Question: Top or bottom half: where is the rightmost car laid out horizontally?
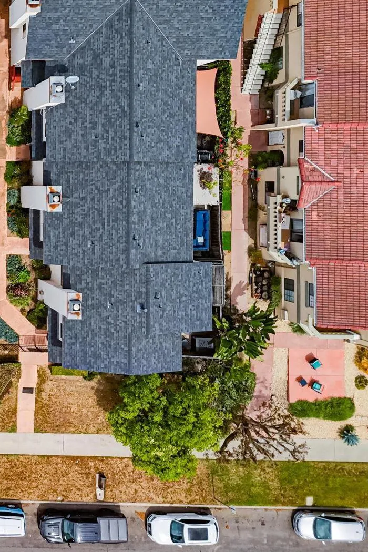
bottom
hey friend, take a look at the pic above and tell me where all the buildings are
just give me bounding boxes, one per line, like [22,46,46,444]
[232,0,368,339]
[9,0,248,374]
